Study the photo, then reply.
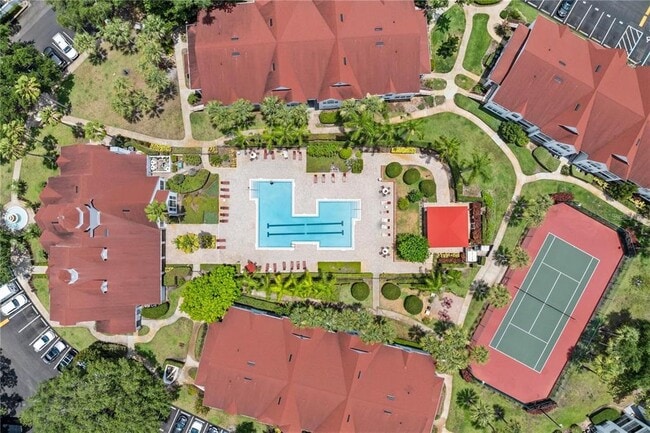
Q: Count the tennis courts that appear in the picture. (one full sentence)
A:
My tally gives 1 tennis court in this photo.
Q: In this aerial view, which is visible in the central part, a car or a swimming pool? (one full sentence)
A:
Visible in the central part is a swimming pool.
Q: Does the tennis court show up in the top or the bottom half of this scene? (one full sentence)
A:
The bottom half of the photo is where the tennis court is.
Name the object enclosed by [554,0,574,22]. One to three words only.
car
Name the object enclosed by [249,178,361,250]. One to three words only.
swimming pool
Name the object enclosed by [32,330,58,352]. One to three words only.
car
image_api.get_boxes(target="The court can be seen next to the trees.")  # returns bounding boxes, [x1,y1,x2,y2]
[467,203,624,404]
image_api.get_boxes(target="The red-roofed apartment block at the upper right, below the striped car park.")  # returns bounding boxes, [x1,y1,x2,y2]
[477,13,650,201]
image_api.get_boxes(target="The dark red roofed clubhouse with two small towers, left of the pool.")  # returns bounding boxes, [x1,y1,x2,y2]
[37,142,177,335]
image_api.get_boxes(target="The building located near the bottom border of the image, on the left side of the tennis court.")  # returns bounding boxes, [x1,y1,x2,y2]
[196,305,441,433]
